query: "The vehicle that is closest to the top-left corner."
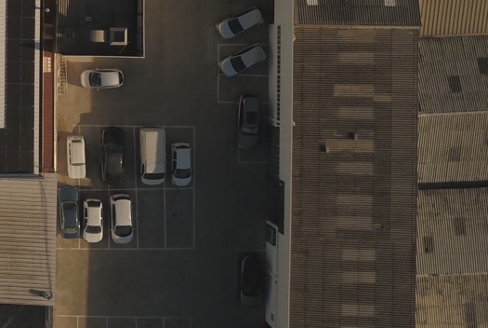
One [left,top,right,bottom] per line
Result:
[80,66,125,91]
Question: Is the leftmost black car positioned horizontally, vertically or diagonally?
vertically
